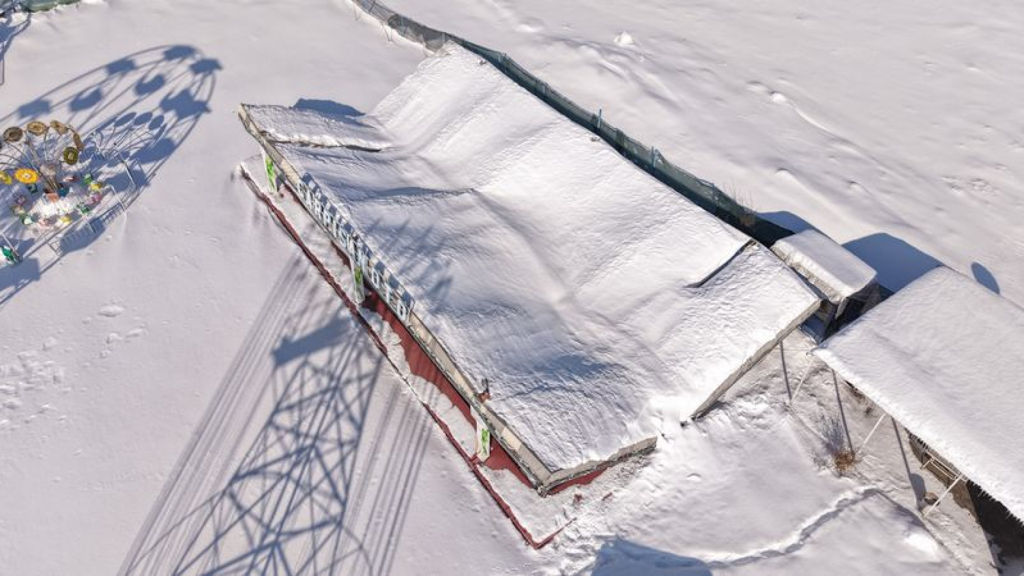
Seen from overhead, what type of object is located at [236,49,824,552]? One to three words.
building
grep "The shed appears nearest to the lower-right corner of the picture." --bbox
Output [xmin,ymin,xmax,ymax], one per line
[790,270,1024,541]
